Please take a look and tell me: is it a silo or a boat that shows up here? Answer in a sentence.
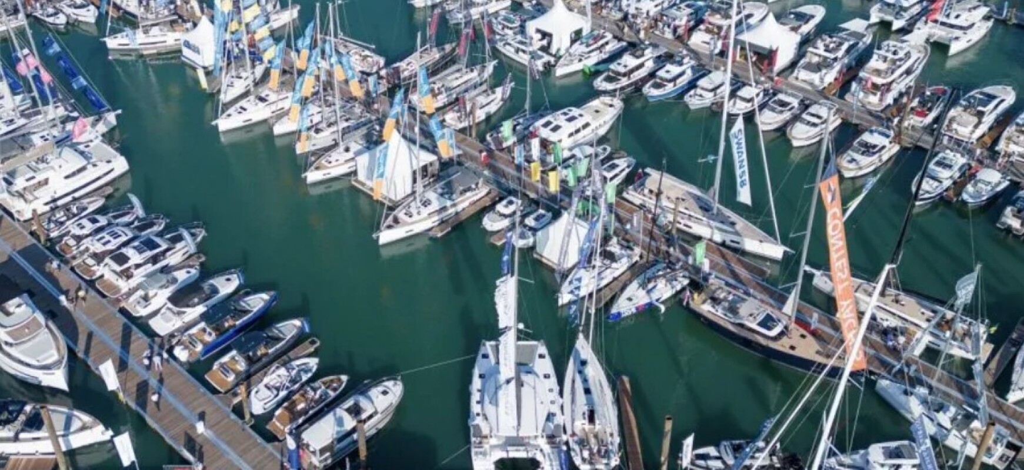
The image shows a boat.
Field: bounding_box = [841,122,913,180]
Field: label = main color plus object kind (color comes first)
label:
white boat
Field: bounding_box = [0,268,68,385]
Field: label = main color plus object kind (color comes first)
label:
white boat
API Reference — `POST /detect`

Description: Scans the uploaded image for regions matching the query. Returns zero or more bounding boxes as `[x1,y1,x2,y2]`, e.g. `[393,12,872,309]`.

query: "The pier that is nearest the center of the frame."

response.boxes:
[488,215,531,248]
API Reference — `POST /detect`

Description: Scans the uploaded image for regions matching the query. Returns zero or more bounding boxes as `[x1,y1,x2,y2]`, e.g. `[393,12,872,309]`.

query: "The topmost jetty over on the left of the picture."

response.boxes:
[97,0,191,39]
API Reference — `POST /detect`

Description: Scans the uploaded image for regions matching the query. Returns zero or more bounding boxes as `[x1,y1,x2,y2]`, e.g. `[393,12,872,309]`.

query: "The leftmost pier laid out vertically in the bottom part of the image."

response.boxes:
[616,379,647,470]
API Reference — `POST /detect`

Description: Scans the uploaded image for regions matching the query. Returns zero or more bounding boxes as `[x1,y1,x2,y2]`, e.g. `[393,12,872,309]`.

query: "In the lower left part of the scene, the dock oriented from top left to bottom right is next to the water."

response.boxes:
[0,214,286,470]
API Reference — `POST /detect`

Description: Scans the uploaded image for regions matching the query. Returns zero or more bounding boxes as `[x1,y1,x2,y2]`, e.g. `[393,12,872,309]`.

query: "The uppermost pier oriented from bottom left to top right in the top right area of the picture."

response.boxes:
[817,61,867,96]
